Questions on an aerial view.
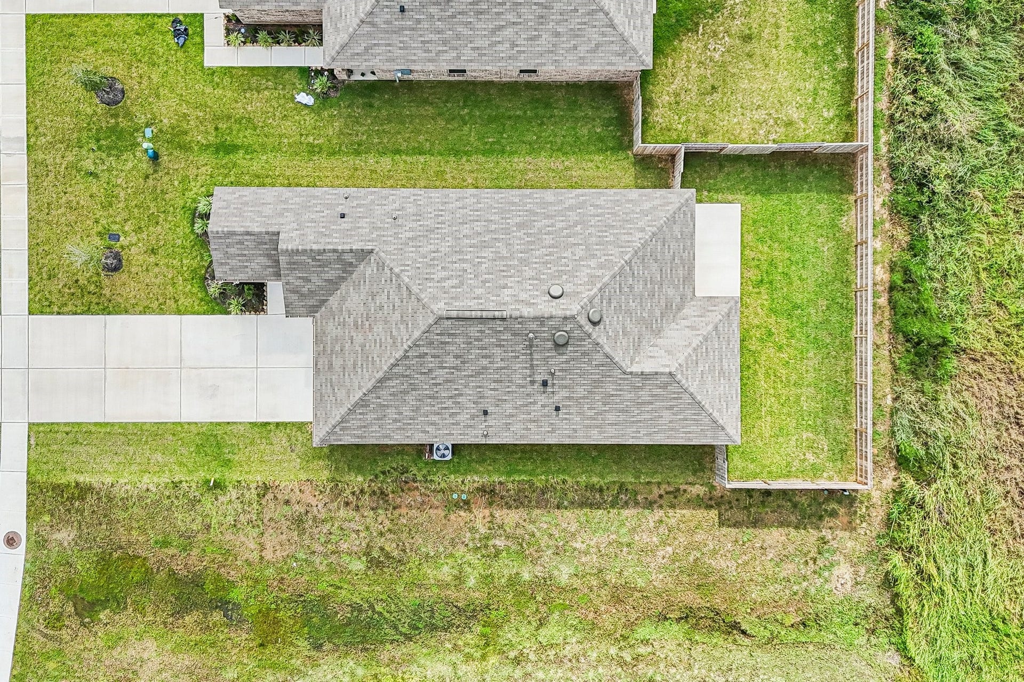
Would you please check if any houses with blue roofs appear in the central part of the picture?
No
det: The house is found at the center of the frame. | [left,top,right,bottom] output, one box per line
[208,186,742,448]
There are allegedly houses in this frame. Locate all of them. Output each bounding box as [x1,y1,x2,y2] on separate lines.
[208,186,742,448]
[219,0,654,82]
